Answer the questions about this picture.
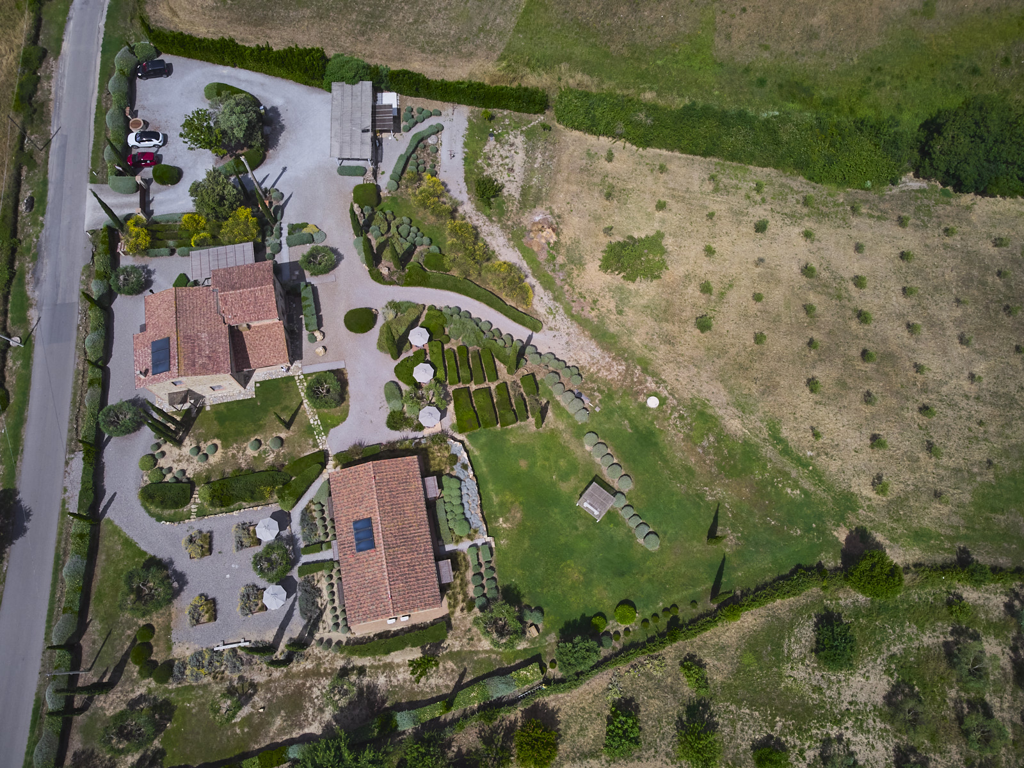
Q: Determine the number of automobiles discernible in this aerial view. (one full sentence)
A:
In total, 3 automobiles can be seen.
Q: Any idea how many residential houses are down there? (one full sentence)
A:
The picture shows 2 residential houses.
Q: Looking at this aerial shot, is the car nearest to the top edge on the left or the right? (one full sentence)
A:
The car nearest to the top edge sits on the left side.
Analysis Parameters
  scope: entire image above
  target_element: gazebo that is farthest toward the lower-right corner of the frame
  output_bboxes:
[576,483,615,523]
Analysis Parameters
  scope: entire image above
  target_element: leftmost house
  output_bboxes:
[132,259,291,397]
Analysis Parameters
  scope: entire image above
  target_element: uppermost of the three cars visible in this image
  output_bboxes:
[138,58,170,79]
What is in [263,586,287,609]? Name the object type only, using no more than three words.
umbrella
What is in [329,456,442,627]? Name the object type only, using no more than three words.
house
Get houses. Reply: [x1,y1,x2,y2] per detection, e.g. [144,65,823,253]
[132,259,291,397]
[329,456,442,627]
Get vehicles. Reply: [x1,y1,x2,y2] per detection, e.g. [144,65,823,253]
[129,129,166,150]
[127,150,160,170]
[138,58,170,79]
